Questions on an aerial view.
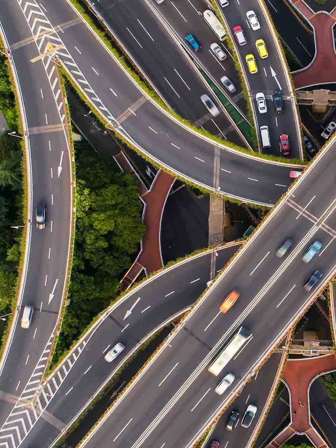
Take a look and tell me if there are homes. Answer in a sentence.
No, no home can be seen from above.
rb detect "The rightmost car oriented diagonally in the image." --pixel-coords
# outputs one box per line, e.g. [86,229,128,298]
[322,120,336,138]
